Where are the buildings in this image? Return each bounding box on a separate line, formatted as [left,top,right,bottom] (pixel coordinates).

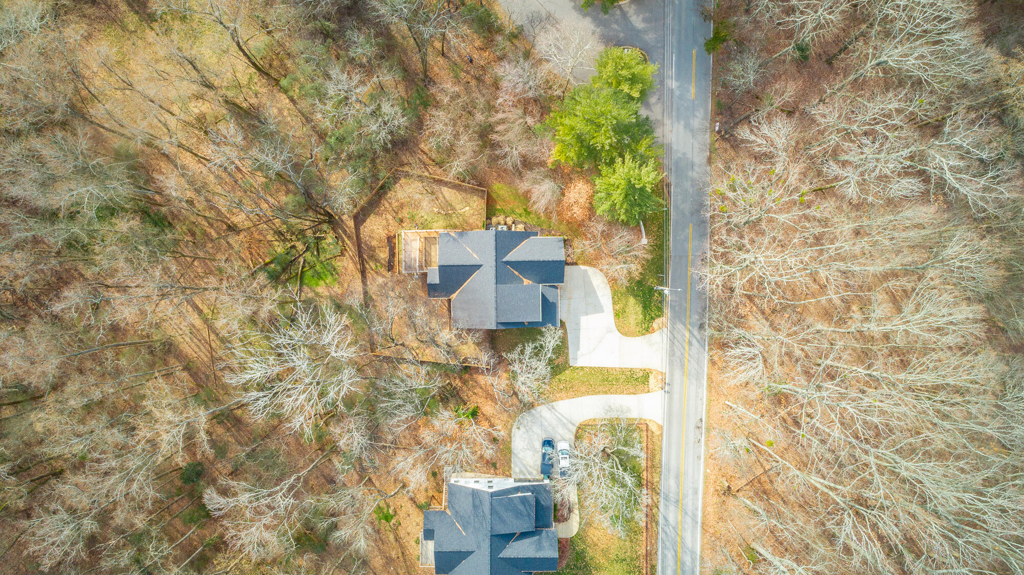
[426,230,564,328]
[422,478,560,575]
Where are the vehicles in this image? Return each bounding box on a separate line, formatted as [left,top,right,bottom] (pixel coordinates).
[556,442,571,479]
[541,439,556,476]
